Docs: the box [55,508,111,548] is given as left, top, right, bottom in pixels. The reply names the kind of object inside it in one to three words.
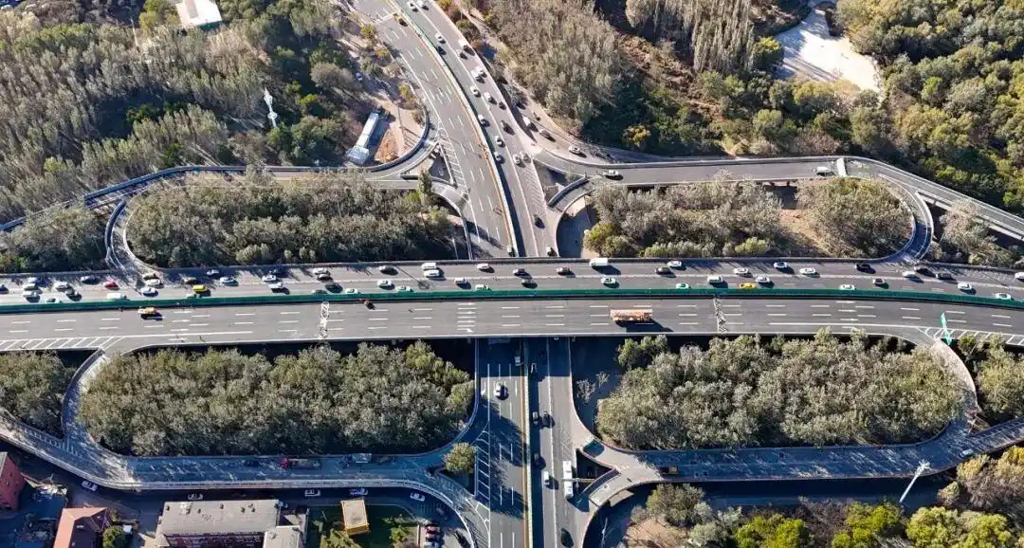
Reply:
house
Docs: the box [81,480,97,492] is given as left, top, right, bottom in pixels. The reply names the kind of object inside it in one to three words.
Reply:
vehicle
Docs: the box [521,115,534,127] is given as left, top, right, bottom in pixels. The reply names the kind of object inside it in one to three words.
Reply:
vehicle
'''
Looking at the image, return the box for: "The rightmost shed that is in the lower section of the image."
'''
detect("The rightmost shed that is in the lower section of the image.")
[341,499,370,535]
